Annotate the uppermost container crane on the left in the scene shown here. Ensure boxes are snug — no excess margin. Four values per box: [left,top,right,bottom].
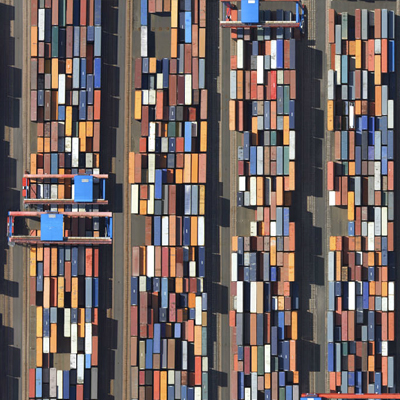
[24,171,108,212]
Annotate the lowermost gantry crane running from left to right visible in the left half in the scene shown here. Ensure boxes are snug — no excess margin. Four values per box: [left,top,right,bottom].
[9,209,113,254]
